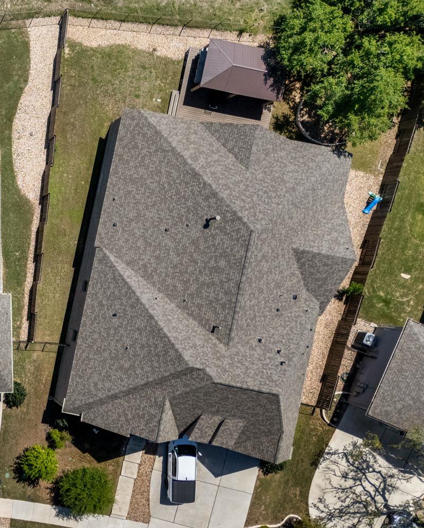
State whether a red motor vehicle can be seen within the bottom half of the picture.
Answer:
No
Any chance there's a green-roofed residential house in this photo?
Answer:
No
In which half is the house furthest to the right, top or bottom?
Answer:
bottom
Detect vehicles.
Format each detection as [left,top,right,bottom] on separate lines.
[167,431,201,503]
[386,511,417,528]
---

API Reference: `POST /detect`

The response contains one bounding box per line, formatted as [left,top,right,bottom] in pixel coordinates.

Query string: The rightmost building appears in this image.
[347,317,424,442]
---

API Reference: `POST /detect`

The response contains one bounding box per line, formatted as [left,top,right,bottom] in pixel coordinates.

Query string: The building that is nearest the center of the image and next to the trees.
[50,109,355,464]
